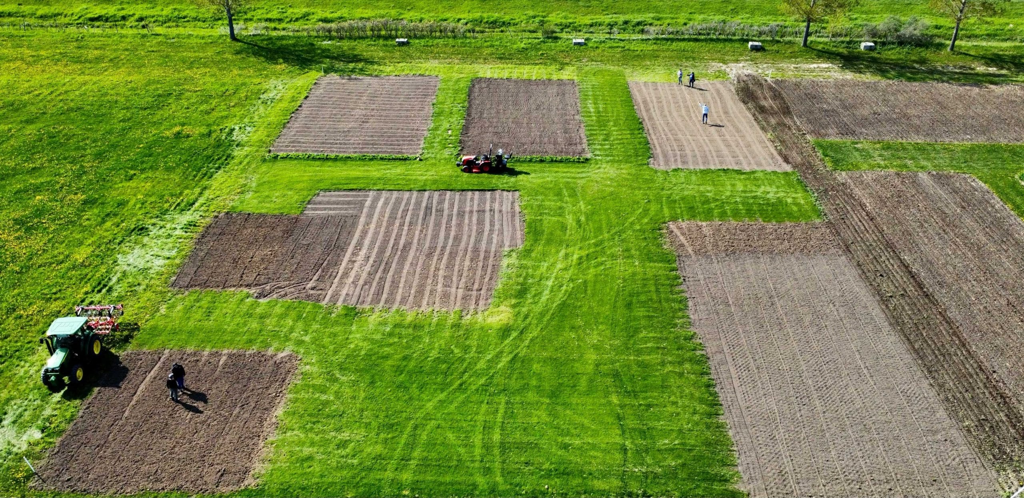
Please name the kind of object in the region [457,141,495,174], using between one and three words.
work vehicle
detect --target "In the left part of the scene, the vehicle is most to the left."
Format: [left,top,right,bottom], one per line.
[41,311,108,386]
